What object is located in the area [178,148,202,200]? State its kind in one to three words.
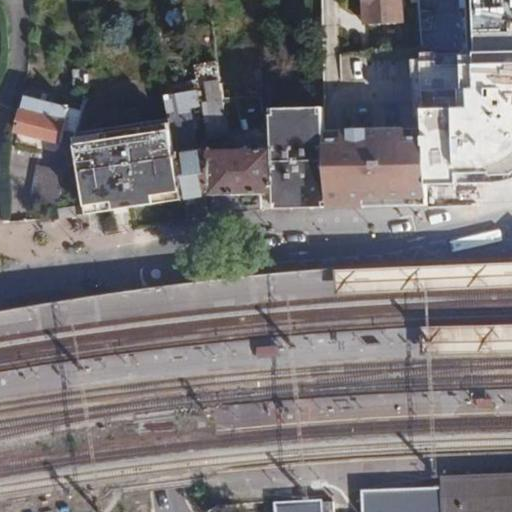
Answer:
house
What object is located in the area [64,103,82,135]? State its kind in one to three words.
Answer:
shed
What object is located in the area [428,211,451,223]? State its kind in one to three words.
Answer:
vehicle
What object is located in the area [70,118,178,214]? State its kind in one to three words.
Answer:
building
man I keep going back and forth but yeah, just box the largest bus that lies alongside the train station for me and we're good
[448,228,506,252]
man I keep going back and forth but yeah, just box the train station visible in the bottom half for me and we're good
[0,262,512,506]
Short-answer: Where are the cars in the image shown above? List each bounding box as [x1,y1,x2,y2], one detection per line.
[55,504,77,512]
[352,60,363,80]
[263,236,284,246]
[390,220,412,230]
[428,211,451,223]
[159,488,170,510]
[284,232,306,244]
